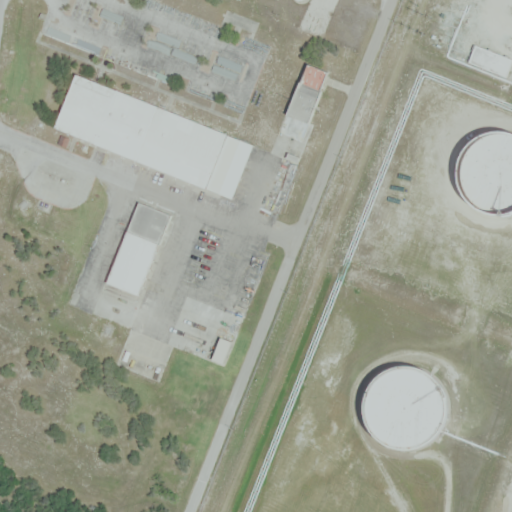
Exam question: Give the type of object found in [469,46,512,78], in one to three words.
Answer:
building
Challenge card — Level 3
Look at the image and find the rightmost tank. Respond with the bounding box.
[454,130,512,218]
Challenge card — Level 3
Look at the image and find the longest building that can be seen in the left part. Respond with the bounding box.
[54,75,254,200]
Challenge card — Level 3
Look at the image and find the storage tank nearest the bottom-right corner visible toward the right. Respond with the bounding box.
[362,366,450,452]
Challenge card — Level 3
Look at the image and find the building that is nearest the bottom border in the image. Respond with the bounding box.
[212,338,233,366]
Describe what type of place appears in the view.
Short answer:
industrial area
